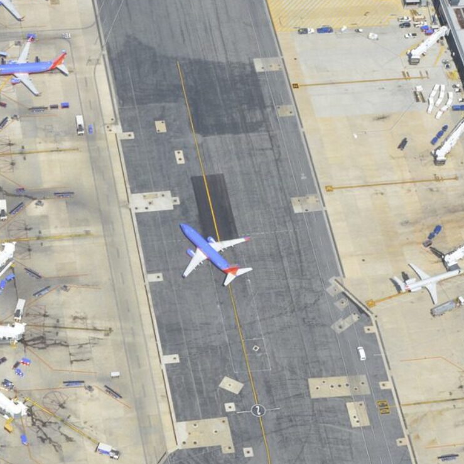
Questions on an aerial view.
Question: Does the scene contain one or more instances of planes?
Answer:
Yes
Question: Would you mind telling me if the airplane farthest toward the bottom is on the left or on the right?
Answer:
right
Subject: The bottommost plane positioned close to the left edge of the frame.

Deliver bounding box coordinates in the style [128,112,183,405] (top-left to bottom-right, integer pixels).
[0,34,68,98]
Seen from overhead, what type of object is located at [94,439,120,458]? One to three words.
vehicle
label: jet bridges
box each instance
[446,246,464,272]
[410,26,446,67]
[0,241,16,269]
[436,124,464,167]
[0,324,31,344]
[0,390,32,420]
